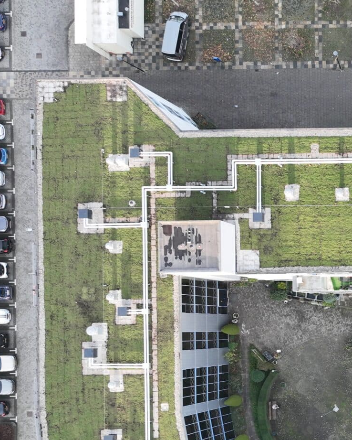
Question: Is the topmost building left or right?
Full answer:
The topmost building sits on the left side.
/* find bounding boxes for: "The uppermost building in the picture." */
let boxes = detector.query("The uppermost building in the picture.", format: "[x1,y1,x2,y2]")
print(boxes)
[75,0,145,58]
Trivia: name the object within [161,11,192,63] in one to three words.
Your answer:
van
